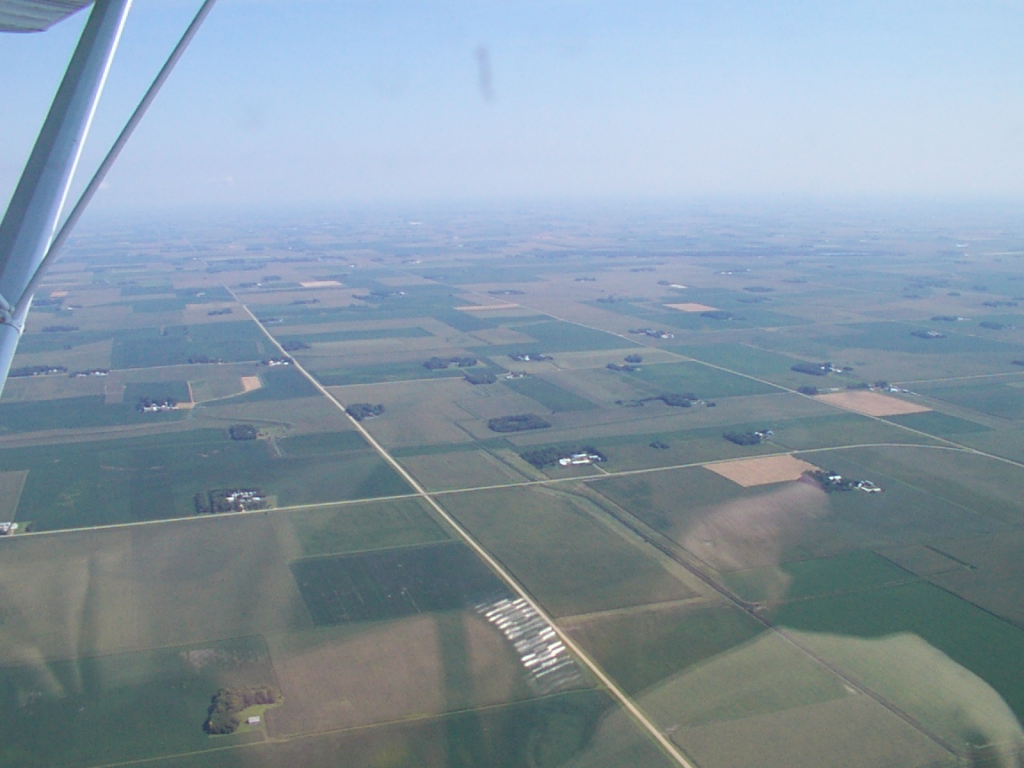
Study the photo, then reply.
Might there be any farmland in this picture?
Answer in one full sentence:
Yes, the picture does contain farmland.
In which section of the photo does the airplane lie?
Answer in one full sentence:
You can find the airplane in the top left area of the picture.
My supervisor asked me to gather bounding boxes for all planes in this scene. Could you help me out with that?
[0,0,213,365]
